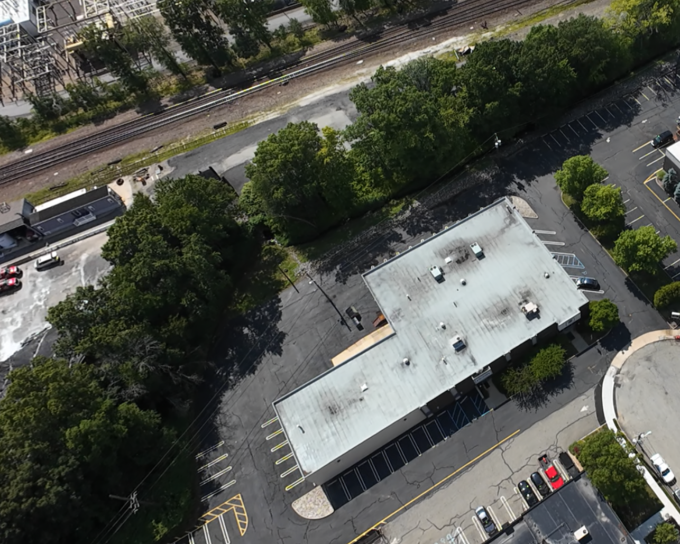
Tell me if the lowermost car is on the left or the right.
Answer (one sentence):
You can find the lowermost car on the right side of the picture.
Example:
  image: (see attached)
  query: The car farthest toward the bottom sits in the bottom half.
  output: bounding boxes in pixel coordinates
[475,504,498,536]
